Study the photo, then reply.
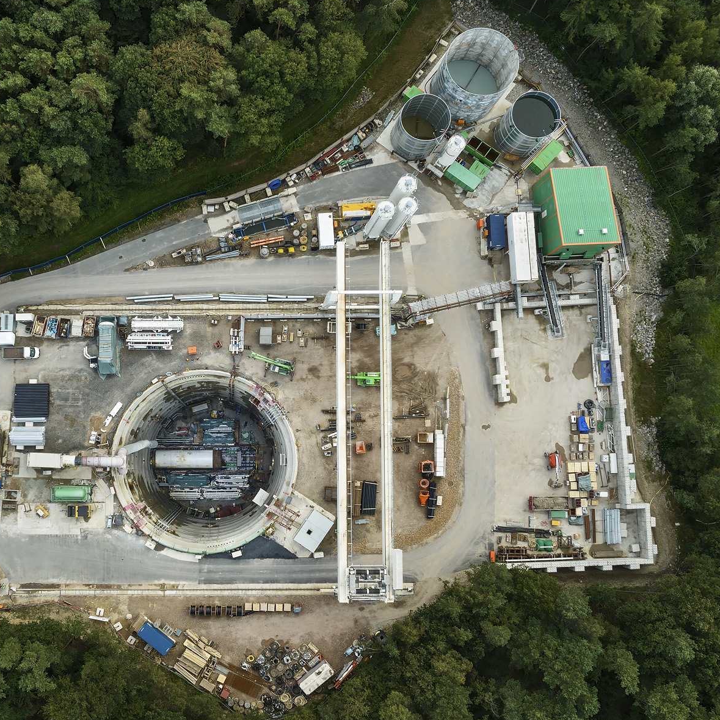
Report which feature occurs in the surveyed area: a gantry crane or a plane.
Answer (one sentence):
The image shows a gantry crane.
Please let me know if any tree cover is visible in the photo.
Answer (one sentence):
Yes, there's tree cover in this view.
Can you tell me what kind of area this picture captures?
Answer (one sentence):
The area seen from above is an industrial area.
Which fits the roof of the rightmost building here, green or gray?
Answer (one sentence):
From above, the roof of the rightmost building appears green.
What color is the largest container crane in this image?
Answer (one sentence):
The largest container crane looks white in the image.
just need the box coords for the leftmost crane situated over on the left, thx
[247,349,298,386]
